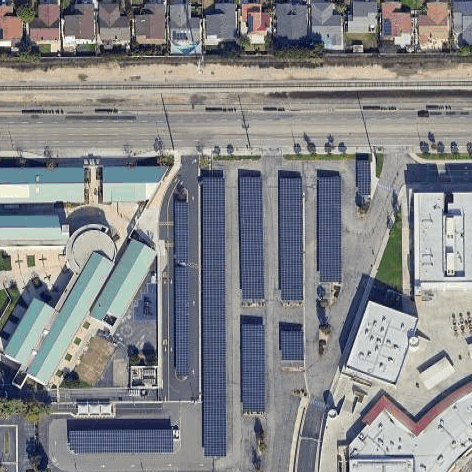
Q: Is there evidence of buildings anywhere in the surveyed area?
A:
Yes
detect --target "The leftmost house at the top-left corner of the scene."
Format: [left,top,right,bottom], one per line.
[0,7,23,46]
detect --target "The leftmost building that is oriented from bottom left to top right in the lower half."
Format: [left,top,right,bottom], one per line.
[3,298,55,366]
